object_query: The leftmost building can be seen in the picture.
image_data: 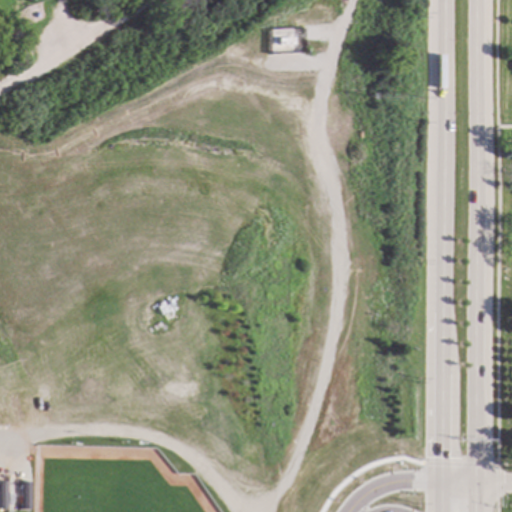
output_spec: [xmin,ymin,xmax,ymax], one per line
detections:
[270,27,304,52]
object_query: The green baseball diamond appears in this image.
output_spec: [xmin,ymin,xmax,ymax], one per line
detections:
[36,445,223,512]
